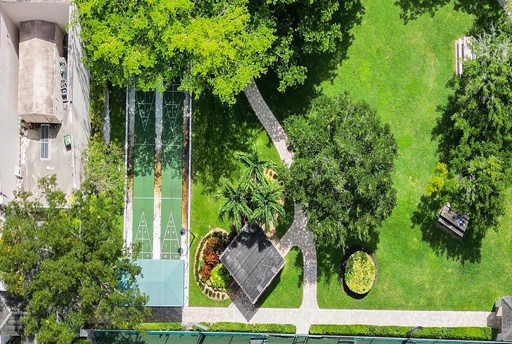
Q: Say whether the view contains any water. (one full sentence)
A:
No, the scene doesn't show any water.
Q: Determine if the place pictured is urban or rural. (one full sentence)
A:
The area is rural.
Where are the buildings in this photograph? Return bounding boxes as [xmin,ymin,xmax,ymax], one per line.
[19,20,62,122]
[220,222,286,304]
